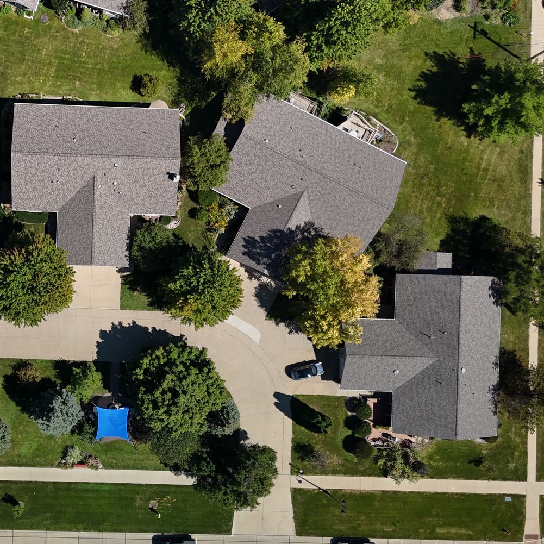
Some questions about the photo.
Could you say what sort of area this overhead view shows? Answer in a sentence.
What you see here is a residential area.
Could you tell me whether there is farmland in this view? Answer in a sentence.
No, no farmland is visible.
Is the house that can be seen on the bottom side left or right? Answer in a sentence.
You can find the house that can be seen on the bottom side on the right side of the picture.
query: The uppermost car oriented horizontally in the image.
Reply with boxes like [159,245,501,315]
[290,362,324,380]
